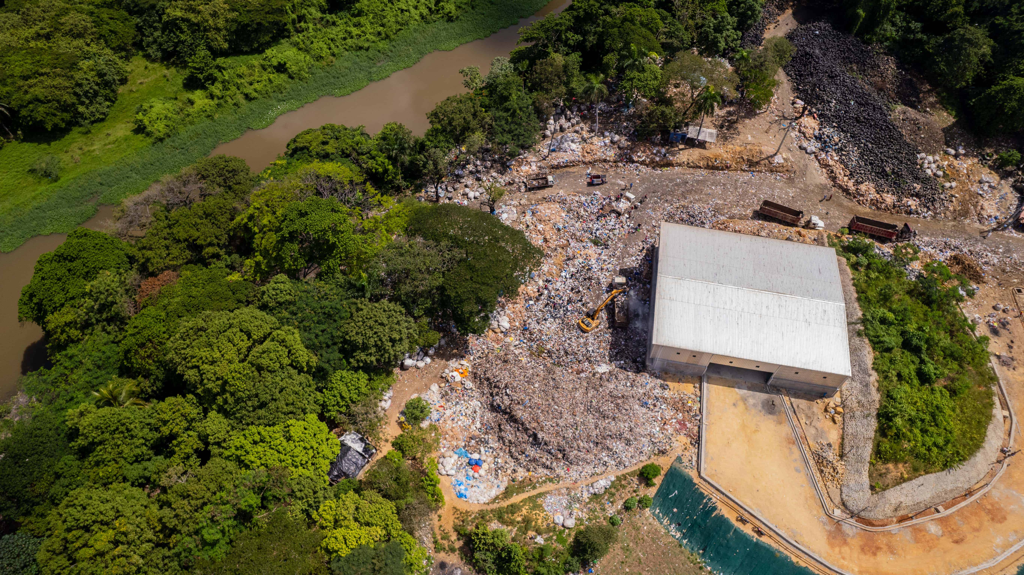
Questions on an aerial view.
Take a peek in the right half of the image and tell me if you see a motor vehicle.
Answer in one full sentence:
Yes, a motor vehicle appears in the right half of the image.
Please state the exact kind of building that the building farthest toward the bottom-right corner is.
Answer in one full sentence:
Looking closely, the building farthest toward the bottom-right corner is a warehouse.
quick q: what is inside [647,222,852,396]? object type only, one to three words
warehouse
